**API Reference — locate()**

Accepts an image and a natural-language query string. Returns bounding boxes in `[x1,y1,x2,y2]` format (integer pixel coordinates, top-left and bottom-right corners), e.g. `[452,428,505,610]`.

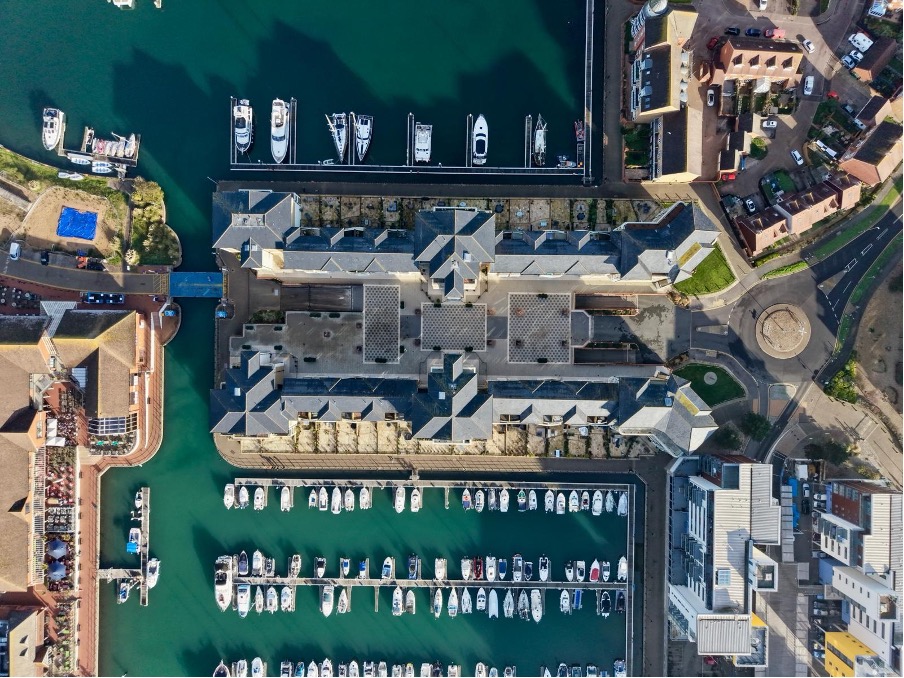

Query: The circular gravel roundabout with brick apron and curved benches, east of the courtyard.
[755,303,811,358]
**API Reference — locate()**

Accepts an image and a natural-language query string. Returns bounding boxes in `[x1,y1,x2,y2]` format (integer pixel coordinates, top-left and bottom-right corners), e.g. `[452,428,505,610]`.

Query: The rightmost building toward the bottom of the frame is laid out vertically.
[817,477,904,678]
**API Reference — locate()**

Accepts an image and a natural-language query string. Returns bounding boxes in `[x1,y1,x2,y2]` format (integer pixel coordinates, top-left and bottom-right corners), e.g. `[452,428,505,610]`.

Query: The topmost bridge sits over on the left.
[168,272,225,297]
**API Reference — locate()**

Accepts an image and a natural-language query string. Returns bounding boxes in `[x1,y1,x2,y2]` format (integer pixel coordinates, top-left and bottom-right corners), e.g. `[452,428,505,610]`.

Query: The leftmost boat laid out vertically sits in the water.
[41,104,64,150]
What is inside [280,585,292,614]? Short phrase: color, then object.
white boat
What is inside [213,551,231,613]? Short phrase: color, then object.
white boat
